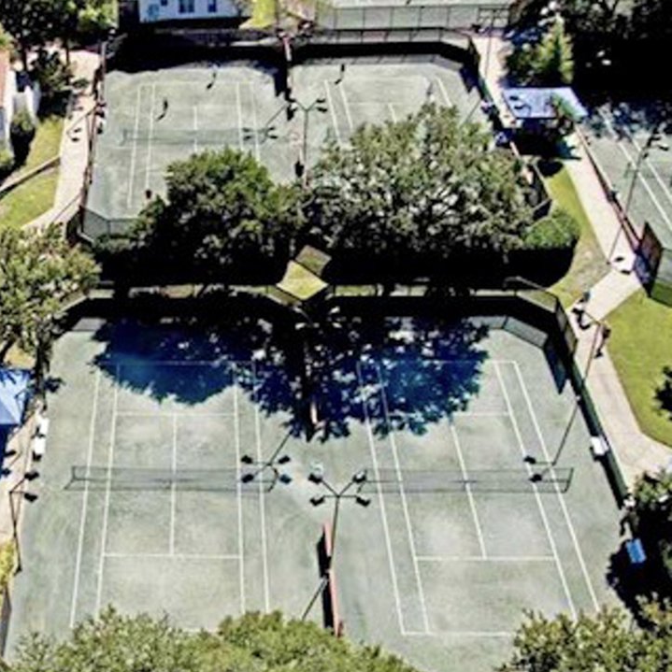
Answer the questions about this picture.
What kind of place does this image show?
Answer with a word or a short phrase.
sports ground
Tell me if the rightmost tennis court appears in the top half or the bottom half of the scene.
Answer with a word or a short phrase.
top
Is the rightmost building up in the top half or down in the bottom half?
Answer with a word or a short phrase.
top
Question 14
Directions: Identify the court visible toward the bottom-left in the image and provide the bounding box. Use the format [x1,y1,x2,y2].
[8,316,332,672]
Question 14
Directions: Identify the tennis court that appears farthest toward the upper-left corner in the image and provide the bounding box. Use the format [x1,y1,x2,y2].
[82,56,302,244]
